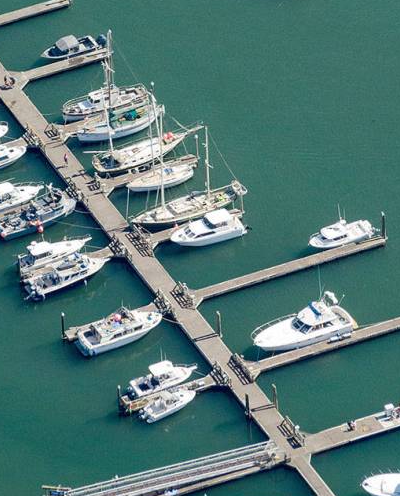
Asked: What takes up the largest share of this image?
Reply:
water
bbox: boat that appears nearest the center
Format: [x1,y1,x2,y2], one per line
[172,210,254,246]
